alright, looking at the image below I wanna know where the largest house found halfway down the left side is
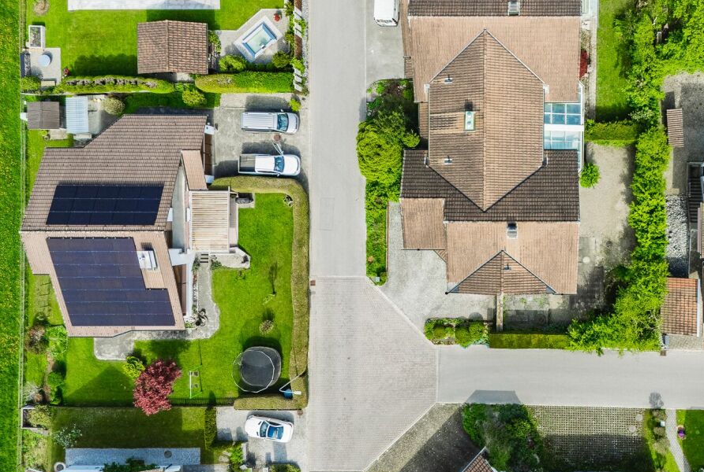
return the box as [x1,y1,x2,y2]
[18,113,237,337]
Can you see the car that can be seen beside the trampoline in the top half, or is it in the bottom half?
bottom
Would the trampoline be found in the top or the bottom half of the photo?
bottom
